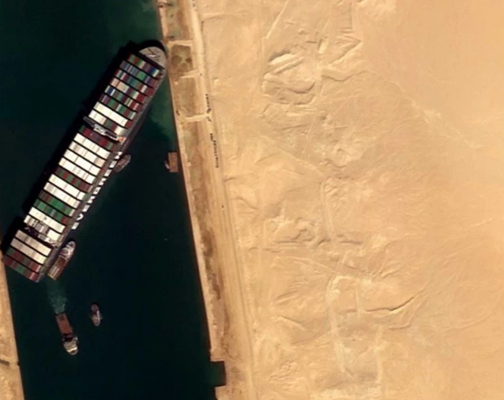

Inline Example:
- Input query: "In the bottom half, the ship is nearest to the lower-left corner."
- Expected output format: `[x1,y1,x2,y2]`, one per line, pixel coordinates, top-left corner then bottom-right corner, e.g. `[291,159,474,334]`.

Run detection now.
[55,311,76,356]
